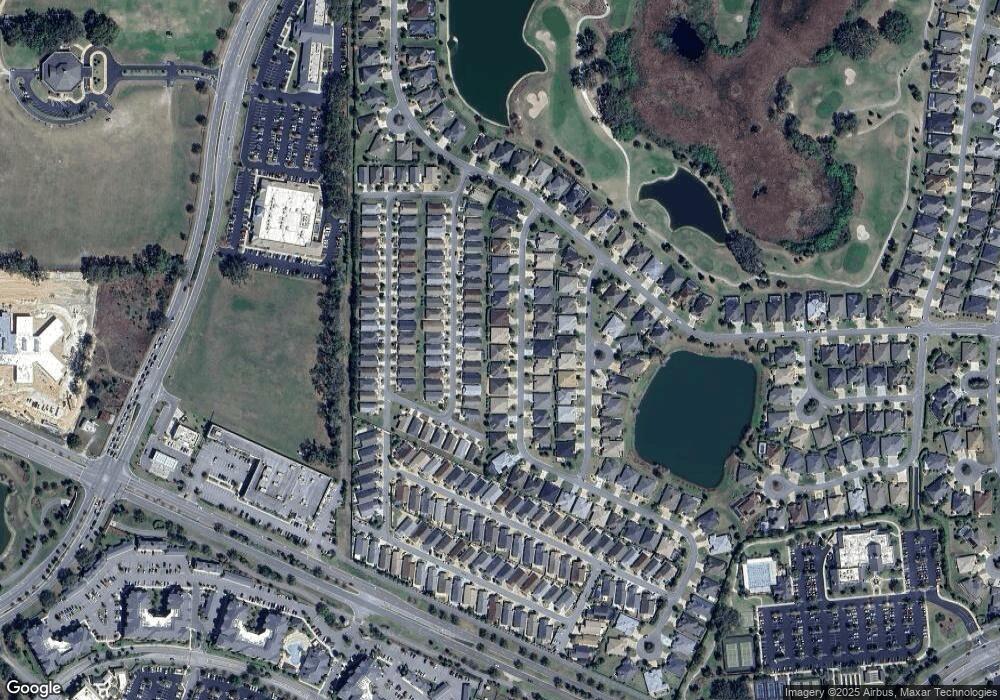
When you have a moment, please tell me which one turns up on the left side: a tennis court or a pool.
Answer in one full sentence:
The one visible on the left side is a pool.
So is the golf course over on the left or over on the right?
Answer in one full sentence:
The golf course sits on the right side.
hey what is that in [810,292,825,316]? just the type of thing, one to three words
house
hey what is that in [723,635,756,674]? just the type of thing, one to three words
tennis court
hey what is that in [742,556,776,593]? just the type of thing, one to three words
swimming pool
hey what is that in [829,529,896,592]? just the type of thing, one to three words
building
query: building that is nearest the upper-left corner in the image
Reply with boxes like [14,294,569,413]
[42,52,93,91]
